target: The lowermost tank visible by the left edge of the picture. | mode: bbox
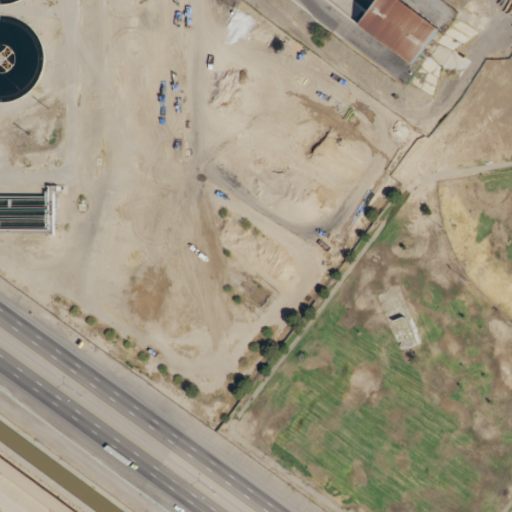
[0,16,44,103]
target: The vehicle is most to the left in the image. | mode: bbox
[104,444,142,472]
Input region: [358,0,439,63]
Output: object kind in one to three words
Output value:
building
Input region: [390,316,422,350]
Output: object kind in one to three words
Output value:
building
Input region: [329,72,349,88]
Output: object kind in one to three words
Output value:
vehicle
